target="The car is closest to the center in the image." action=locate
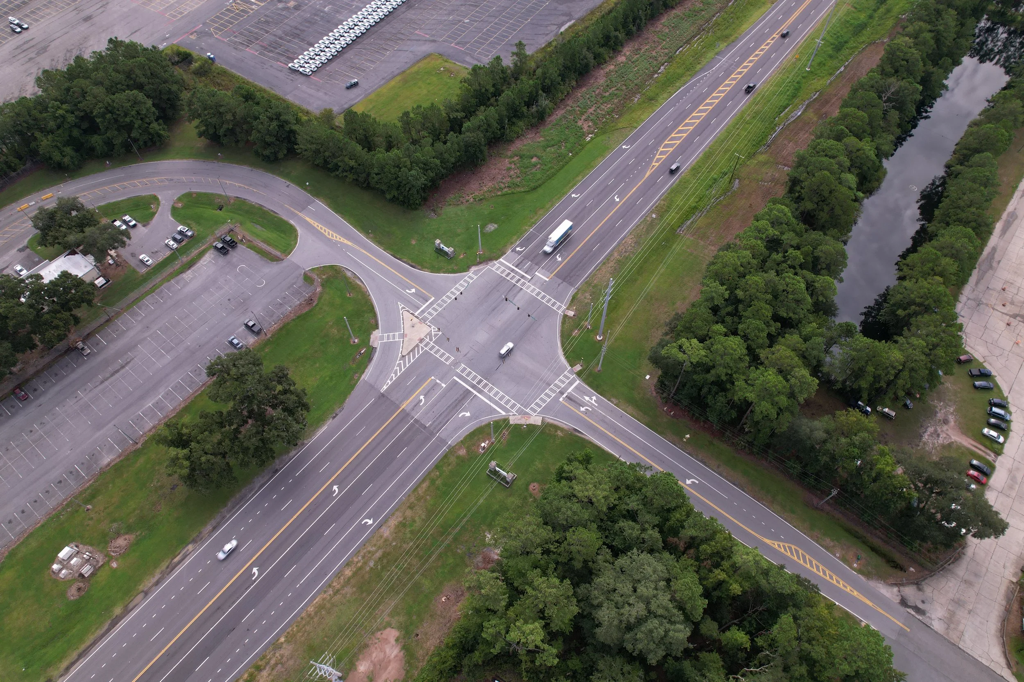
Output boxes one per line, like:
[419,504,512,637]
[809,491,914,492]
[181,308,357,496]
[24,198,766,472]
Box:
[498,342,514,356]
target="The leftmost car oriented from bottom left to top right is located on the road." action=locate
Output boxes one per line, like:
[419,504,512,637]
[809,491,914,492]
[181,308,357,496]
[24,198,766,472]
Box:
[216,538,239,561]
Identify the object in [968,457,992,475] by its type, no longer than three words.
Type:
car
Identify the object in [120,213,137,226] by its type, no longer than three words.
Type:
vehicle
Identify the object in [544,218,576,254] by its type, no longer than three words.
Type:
truck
